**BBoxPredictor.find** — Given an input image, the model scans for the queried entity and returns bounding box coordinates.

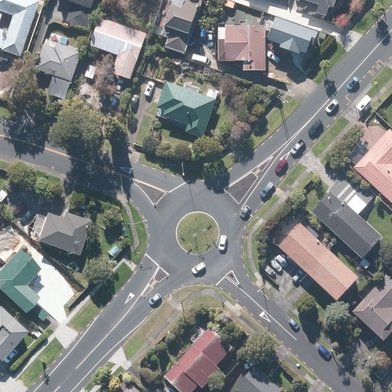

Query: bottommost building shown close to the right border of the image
[352,274,392,340]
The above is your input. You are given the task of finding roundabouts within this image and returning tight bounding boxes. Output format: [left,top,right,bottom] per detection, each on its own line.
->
[176,210,219,254]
